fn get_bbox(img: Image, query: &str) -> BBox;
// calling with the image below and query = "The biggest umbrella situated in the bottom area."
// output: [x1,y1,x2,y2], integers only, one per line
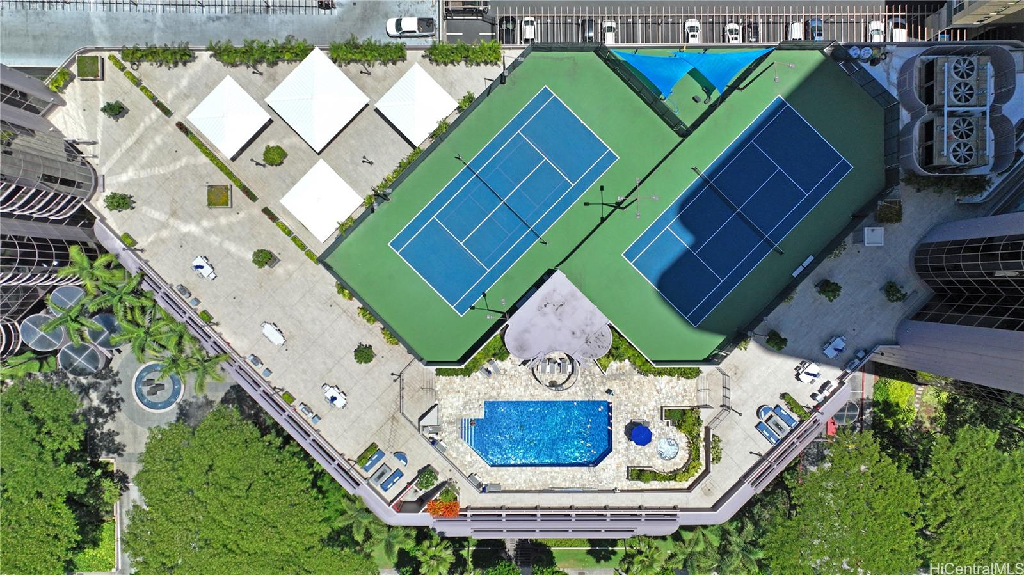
[630,424,652,446]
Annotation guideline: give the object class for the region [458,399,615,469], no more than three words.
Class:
swimming pool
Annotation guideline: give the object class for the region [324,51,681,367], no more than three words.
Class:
tennis court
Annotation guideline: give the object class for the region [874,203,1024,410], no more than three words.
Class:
building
